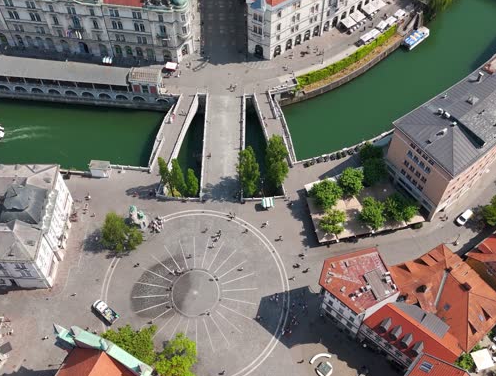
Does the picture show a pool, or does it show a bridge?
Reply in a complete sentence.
There is a bridge in the scene.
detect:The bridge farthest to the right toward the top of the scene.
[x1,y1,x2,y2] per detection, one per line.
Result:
[253,91,297,193]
